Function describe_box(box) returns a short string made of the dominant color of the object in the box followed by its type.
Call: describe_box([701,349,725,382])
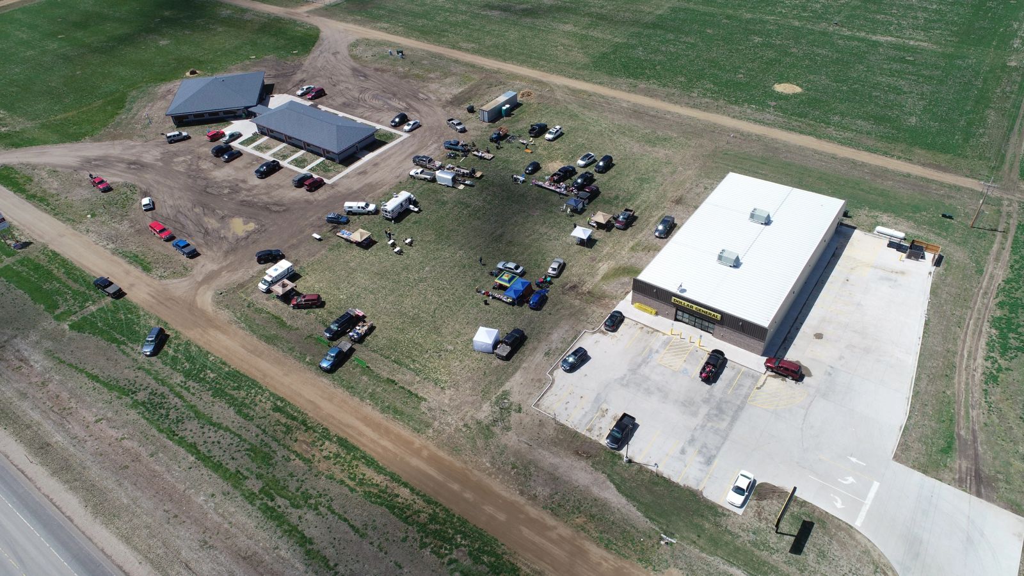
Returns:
black truck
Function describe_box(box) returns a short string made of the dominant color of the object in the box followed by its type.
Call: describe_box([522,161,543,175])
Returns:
black car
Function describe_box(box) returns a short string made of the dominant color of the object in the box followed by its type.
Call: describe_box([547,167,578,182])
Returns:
black vehicle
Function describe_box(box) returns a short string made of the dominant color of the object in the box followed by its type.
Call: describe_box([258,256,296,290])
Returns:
white van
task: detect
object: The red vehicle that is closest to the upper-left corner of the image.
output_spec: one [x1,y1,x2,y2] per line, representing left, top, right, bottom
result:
[87,176,110,191]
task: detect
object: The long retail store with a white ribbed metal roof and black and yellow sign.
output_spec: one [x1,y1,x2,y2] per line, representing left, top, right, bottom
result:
[633,171,852,355]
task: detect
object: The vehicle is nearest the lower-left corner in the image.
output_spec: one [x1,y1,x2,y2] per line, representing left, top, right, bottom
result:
[141,326,165,355]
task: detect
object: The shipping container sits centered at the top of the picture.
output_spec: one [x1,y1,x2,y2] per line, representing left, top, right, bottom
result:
[479,92,518,122]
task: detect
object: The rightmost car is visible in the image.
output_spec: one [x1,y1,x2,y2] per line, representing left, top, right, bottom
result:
[763,359,805,379]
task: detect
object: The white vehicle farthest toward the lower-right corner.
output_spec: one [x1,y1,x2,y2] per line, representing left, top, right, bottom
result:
[727,469,757,508]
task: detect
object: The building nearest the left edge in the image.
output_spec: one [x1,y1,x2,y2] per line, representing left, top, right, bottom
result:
[166,72,263,125]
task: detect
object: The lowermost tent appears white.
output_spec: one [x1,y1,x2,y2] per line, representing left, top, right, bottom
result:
[473,327,499,355]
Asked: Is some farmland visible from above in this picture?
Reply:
Yes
